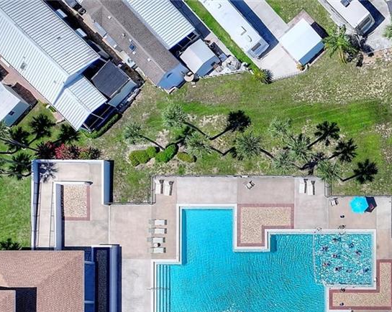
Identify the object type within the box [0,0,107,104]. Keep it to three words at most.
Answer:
house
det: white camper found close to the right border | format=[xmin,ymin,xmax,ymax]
[329,0,376,39]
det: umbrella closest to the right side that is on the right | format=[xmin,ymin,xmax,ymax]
[349,195,368,214]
